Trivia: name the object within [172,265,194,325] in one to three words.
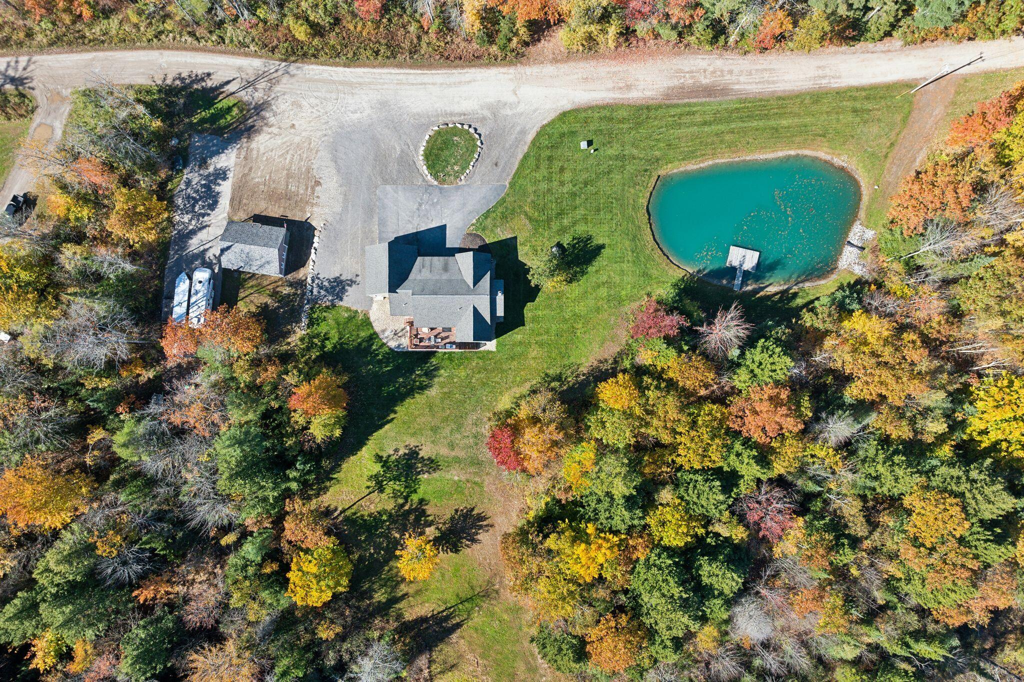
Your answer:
trailer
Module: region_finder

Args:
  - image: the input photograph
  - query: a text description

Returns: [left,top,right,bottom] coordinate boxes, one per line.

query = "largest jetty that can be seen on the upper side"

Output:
[726,246,759,272]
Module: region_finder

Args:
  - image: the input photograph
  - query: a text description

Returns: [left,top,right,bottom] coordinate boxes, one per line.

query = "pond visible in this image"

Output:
[651,157,858,286]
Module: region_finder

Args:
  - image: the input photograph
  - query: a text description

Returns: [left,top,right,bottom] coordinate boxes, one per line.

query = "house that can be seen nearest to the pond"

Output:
[364,243,504,341]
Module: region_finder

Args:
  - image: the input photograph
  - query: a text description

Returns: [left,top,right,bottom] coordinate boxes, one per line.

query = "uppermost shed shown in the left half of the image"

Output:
[219,220,290,275]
